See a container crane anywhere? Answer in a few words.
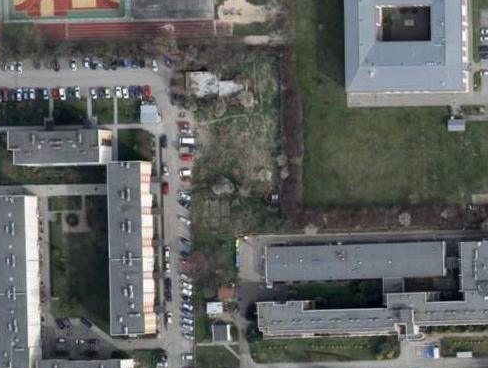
No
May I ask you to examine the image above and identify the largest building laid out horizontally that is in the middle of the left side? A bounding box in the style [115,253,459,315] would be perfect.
[7,129,111,166]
